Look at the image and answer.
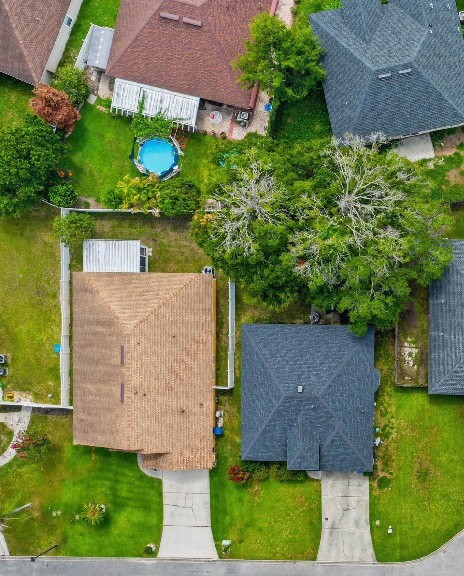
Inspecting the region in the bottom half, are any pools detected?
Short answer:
No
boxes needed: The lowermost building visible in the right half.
[241,324,379,472]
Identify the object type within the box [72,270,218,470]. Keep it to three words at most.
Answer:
house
